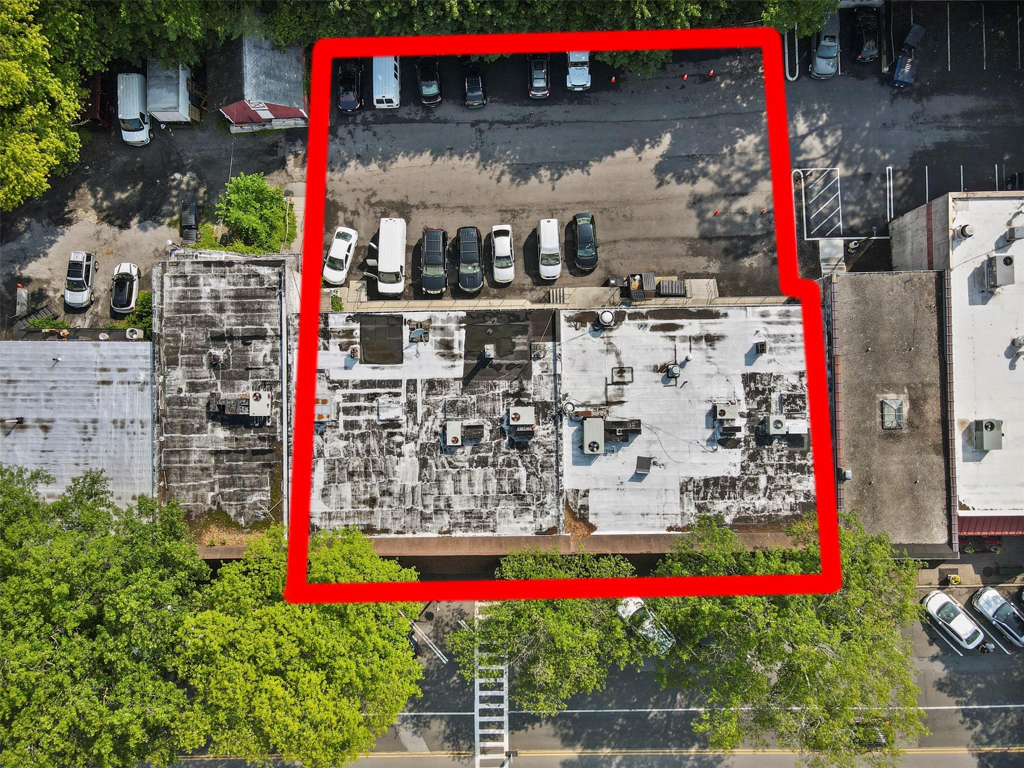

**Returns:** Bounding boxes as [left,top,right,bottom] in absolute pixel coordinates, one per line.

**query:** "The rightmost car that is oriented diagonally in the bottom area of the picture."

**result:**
[971,589,1024,656]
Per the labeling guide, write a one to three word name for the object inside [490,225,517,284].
car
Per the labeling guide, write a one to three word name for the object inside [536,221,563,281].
vehicle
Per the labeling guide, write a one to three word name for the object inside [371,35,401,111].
van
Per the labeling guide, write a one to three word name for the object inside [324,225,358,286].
car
